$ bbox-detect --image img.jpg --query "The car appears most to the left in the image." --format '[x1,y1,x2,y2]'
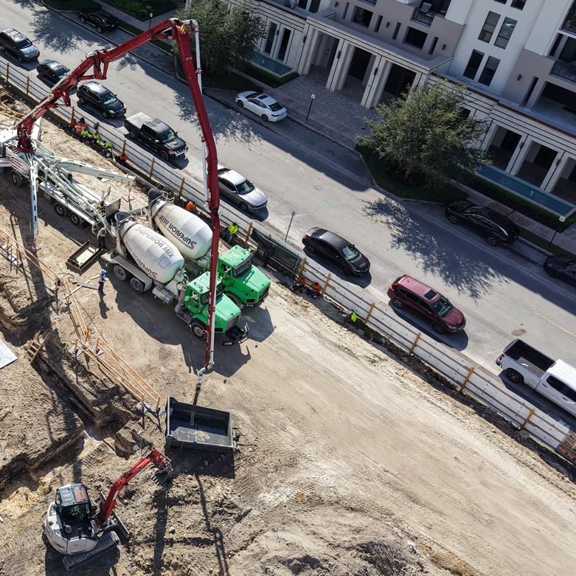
[0,32,41,66]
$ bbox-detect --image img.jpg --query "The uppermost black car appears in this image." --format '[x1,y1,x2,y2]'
[82,9,127,36]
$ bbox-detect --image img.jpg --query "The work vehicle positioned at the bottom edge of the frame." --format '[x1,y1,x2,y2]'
[41,430,158,571]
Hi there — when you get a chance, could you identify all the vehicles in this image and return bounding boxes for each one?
[126,118,194,166]
[76,83,128,123]
[210,173,278,221]
[41,430,158,571]
[82,9,127,36]
[0,32,41,66]
[32,59,69,88]
[234,92,294,127]
[300,229,378,287]
[0,15,225,427]
[499,344,576,424]
[98,205,257,362]
[445,203,529,253]
[387,280,477,347]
